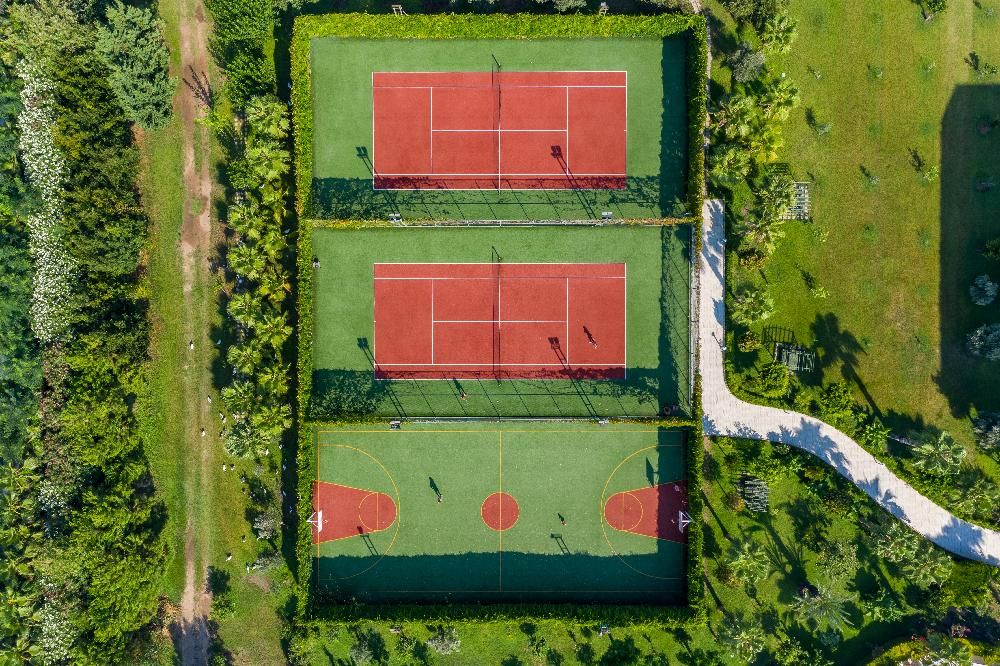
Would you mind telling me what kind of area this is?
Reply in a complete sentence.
It's a sports ground.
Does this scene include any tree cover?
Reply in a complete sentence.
Yes, tree cover can be seen from above here.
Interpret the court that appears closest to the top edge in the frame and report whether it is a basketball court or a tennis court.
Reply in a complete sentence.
What you see as the court that appears closest to the top edge is a tennis court.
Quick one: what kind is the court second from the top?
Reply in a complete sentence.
From above, the court second from the top can be identified as a tennis court.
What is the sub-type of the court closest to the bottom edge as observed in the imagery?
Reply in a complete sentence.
I'd identify the court closest to the bottom edge as a basketball court.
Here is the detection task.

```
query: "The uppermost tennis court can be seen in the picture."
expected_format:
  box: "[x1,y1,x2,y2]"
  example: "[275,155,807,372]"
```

[311,38,689,226]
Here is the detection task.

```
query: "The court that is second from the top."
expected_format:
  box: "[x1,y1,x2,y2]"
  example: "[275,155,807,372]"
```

[311,226,692,419]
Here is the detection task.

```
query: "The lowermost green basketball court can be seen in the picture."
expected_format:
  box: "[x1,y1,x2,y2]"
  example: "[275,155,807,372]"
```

[311,419,689,606]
